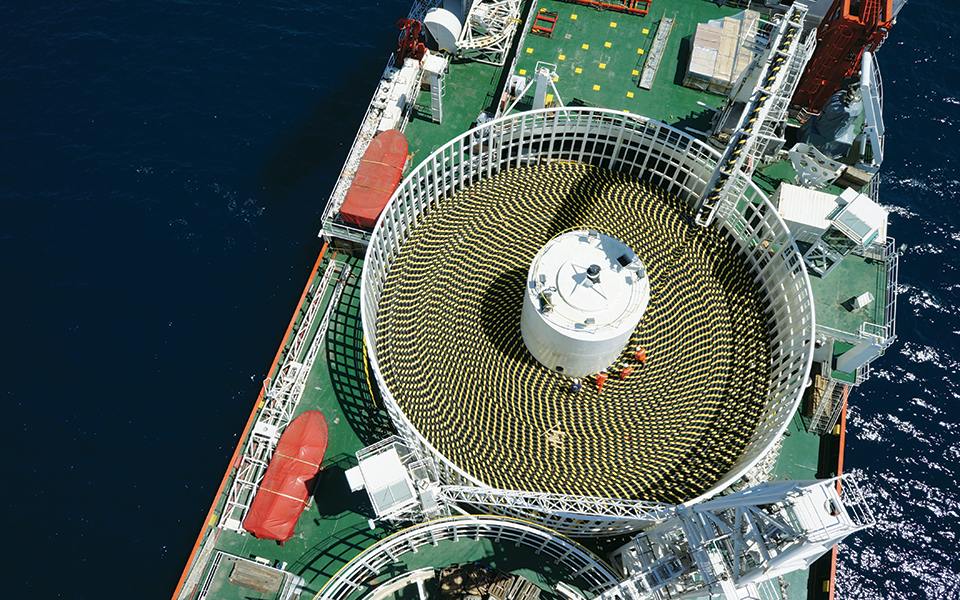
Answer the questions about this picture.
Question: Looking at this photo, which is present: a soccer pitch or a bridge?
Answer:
bridge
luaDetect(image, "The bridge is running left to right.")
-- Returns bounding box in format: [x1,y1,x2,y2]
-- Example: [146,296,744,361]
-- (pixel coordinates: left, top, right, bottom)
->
[431,482,679,531]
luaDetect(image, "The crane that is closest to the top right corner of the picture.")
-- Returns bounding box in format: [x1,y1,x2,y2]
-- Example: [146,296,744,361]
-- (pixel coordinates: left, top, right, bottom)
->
[799,0,916,101]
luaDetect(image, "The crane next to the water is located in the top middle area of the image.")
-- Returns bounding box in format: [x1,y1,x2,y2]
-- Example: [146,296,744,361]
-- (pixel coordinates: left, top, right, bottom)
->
[392,15,433,78]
